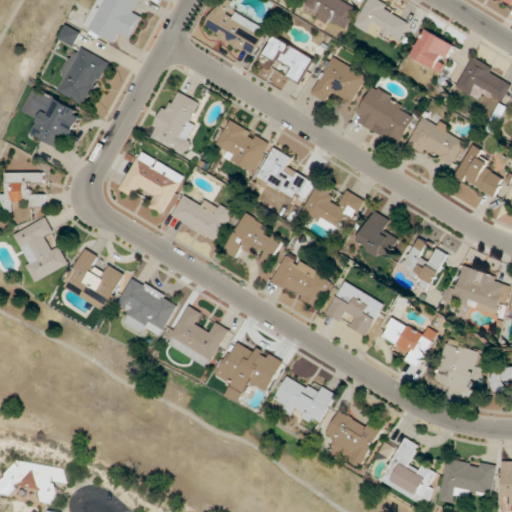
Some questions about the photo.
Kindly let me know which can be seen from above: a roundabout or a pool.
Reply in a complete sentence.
Of the two, only a pool appears.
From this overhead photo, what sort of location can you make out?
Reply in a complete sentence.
It's a residential area.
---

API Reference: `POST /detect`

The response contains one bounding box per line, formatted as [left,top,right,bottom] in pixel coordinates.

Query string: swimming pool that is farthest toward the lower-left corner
[64,290,96,318]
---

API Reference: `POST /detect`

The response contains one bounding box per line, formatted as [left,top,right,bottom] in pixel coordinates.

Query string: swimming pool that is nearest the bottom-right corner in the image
[372,459,386,480]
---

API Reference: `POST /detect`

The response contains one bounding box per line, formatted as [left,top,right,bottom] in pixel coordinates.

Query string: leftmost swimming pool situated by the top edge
[231,0,271,24]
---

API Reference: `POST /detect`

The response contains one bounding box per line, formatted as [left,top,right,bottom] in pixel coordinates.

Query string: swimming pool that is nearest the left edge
[0,242,20,271]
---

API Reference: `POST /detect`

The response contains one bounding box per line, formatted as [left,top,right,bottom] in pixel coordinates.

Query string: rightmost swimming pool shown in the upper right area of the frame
[450,120,472,138]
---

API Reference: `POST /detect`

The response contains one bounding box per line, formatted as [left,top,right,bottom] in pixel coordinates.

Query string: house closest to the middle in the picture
[226,214,284,257]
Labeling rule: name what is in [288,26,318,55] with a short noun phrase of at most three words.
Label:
swimming pool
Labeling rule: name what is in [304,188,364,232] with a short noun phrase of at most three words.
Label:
house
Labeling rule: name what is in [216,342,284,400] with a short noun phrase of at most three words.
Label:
house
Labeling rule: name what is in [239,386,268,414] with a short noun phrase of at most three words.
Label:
swimming pool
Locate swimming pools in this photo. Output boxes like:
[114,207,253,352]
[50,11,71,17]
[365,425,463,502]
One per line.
[467,309,500,330]
[64,290,96,318]
[204,102,224,126]
[394,272,414,288]
[309,223,329,238]
[398,306,429,328]
[239,386,268,414]
[187,169,224,203]
[231,0,271,24]
[372,459,386,480]
[288,26,318,55]
[500,316,512,345]
[450,120,472,138]
[384,80,408,98]
[0,242,20,271]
